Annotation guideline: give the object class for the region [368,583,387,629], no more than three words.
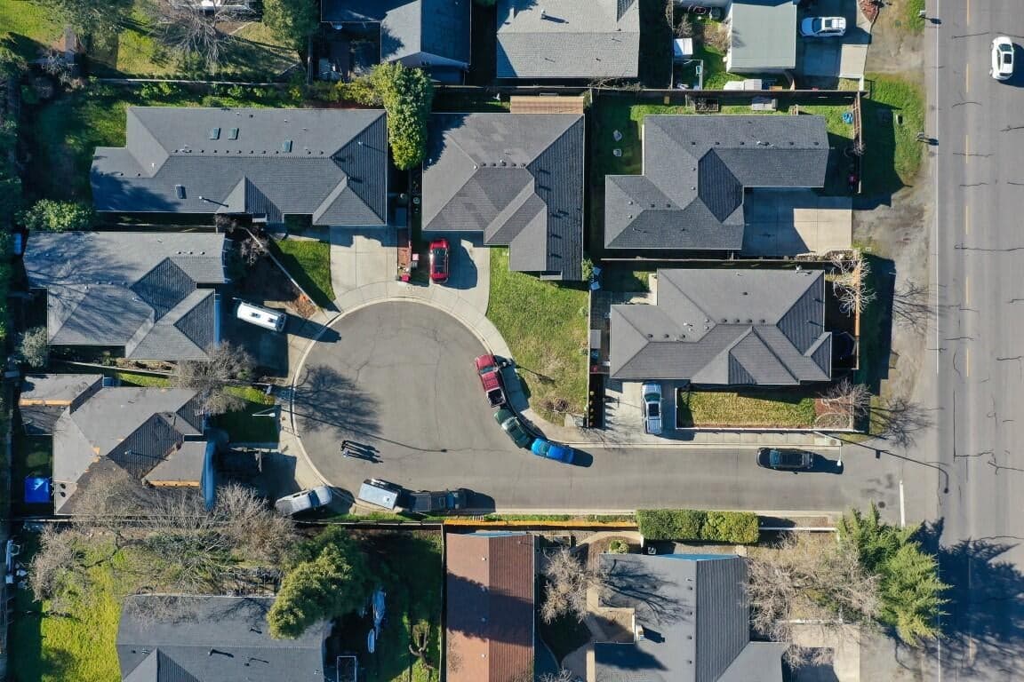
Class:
boat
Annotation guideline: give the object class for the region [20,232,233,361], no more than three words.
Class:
house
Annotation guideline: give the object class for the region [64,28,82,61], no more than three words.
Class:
shed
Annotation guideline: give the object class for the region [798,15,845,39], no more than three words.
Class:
car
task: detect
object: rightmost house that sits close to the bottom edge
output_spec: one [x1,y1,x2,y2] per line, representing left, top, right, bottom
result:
[598,554,787,682]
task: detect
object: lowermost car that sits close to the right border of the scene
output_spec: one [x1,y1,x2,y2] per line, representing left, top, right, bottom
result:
[986,38,1013,82]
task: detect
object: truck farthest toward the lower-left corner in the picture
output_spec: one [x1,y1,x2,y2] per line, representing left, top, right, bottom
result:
[276,484,332,518]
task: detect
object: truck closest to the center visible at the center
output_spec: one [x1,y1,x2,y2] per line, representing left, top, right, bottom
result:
[479,355,507,408]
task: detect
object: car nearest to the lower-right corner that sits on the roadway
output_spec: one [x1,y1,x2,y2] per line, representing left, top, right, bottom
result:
[756,448,810,471]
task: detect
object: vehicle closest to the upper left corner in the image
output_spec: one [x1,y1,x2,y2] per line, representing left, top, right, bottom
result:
[233,301,291,335]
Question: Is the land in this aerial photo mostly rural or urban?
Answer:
urban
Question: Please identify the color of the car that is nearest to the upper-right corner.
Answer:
white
